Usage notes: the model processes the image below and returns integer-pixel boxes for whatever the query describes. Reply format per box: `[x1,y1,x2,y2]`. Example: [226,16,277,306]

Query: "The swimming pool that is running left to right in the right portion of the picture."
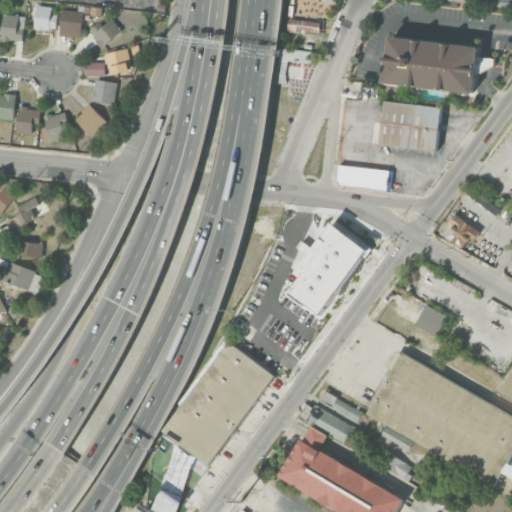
[418,91,444,103]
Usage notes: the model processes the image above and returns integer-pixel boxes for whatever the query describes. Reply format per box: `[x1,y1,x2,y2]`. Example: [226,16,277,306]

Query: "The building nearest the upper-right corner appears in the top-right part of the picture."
[380,38,494,97]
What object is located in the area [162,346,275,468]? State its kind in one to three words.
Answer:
warehouse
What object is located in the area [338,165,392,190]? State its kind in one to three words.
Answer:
building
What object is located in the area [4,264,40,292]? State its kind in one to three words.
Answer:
house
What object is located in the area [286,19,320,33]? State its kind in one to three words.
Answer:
barn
